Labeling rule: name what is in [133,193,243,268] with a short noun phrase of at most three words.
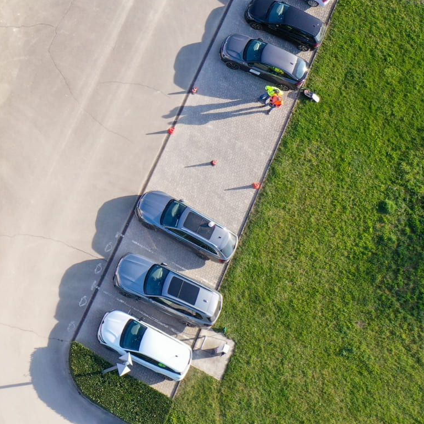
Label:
car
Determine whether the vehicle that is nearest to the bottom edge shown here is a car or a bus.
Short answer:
car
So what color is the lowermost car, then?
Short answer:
white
